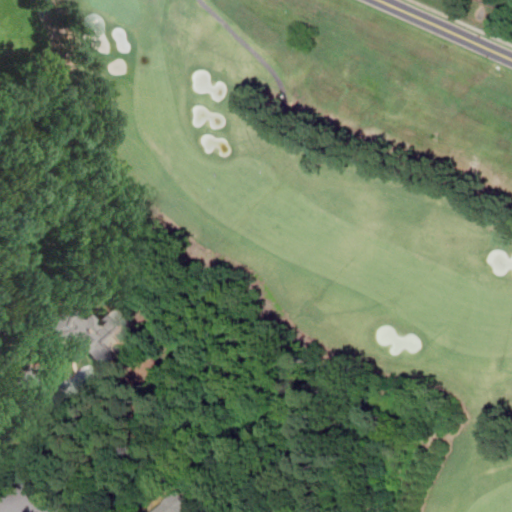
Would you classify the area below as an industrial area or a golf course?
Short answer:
golf course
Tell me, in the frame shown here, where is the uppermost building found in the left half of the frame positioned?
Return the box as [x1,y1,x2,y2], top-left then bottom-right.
[54,308,125,362]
